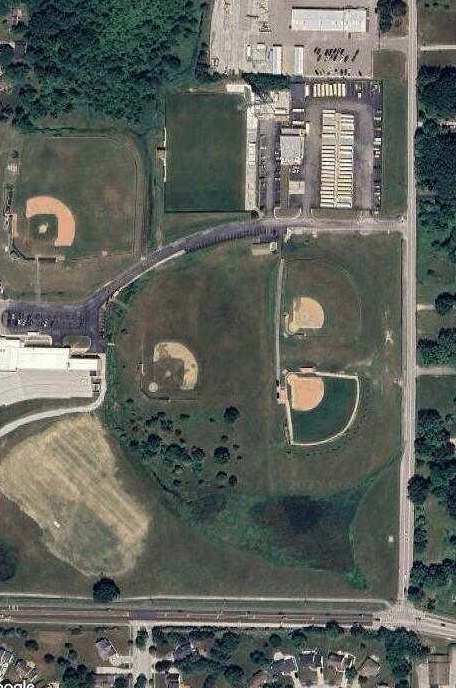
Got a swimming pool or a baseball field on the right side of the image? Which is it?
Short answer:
baseball field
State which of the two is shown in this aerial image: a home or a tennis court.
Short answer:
home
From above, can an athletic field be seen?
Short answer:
Yes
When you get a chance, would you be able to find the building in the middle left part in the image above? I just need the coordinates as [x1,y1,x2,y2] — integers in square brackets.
[0,332,97,408]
